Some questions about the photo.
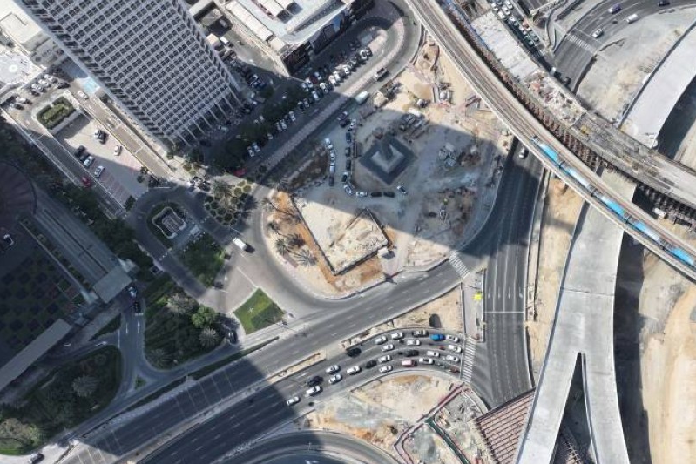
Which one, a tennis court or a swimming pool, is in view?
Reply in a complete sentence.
Visible in the photo is a swimming pool.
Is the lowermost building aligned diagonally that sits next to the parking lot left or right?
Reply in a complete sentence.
The lowermost building aligned diagonally that sits next to the parking lot is on the left side of the image.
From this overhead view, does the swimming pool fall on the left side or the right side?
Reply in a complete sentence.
The swimming pool is on the left side of the image.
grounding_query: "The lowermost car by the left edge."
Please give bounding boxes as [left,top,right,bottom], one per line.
[28,451,44,464]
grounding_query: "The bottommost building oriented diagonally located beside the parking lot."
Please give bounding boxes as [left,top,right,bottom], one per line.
[35,196,130,290]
